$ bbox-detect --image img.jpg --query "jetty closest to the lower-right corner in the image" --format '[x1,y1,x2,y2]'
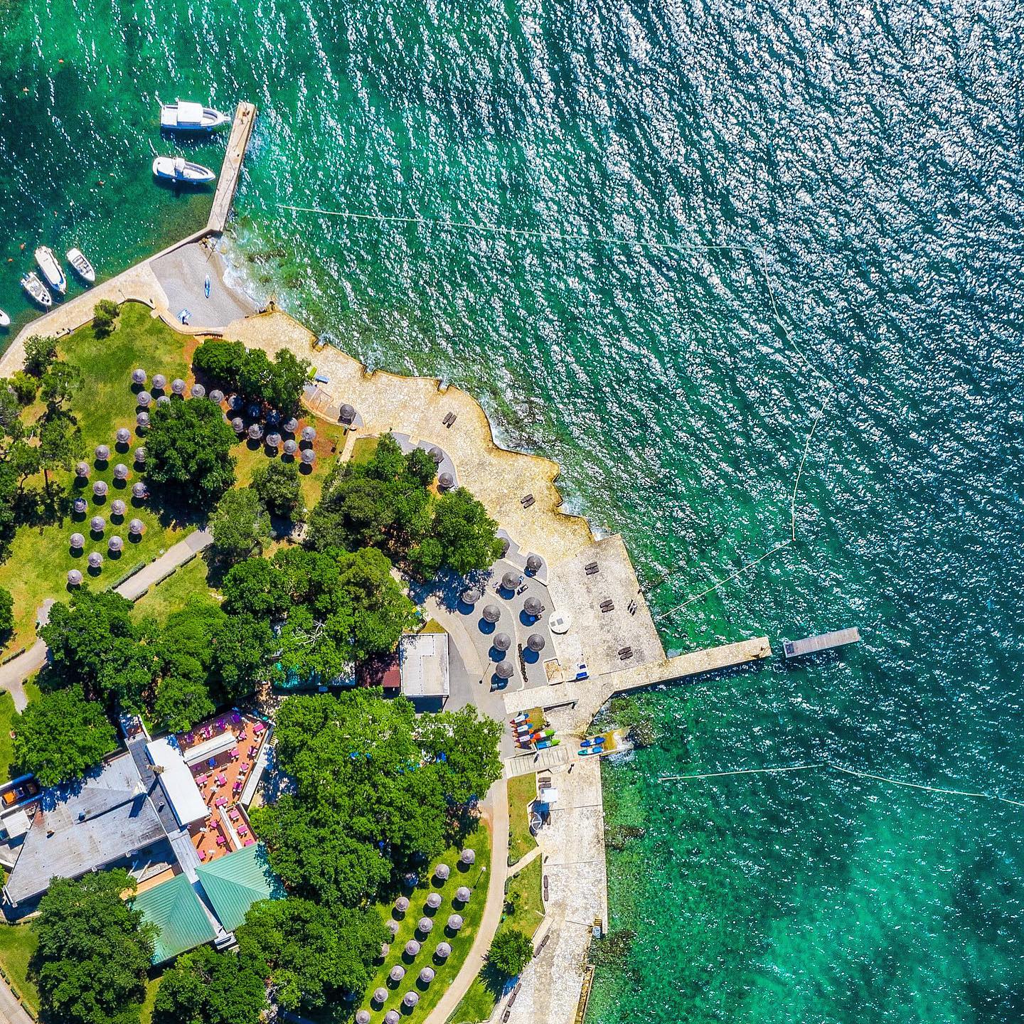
[783,627,859,657]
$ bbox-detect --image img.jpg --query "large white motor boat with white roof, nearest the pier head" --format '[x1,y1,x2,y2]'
[164,103,230,128]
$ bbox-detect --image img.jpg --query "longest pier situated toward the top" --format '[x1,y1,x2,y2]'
[208,102,258,234]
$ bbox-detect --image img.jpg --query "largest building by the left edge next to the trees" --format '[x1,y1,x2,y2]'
[5,733,211,909]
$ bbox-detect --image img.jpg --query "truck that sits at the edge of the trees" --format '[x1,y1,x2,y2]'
[2,782,45,808]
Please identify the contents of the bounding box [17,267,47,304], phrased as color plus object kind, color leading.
white boat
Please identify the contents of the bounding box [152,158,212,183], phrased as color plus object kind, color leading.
white boat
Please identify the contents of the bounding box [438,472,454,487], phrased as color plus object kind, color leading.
gray umbrella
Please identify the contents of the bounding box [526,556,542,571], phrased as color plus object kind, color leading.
gray umbrella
